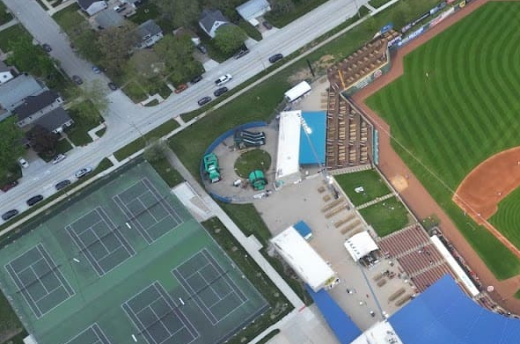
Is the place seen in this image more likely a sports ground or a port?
sports ground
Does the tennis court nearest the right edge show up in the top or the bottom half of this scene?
bottom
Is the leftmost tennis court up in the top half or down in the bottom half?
bottom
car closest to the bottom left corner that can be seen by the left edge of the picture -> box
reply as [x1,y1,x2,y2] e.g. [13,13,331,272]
[1,208,19,220]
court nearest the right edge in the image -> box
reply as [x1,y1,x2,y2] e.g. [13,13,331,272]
[172,248,247,324]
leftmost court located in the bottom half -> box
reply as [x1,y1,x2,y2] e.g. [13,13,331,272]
[3,243,76,319]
